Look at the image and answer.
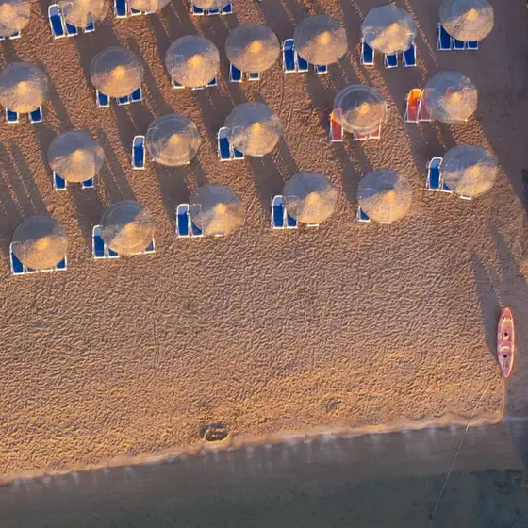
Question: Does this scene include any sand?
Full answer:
Yes, sand can be seen from above here.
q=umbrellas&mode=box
[164,37,219,87]
[225,24,280,72]
[0,0,31,37]
[292,15,348,65]
[187,183,245,237]
[0,64,50,112]
[145,116,200,167]
[47,131,105,184]
[437,0,494,42]
[357,170,414,223]
[88,47,144,97]
[331,85,387,133]
[279,171,337,224]
[424,72,480,123]
[224,103,282,154]
[12,217,68,270]
[124,0,171,14]
[441,144,499,196]
[98,200,154,253]
[57,0,111,27]
[361,5,417,53]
